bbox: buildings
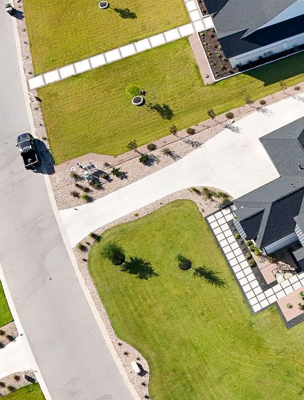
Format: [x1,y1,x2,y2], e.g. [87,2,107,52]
[233,117,304,270]
[205,0,304,70]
